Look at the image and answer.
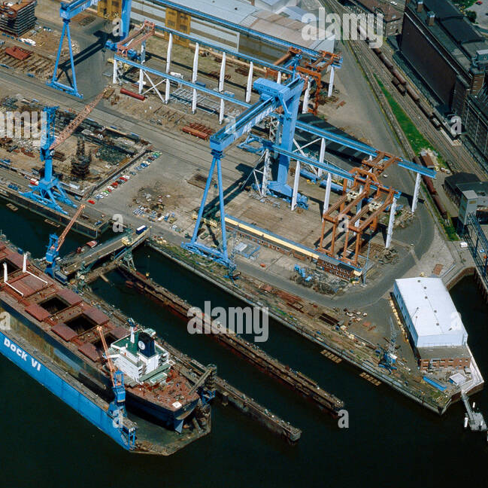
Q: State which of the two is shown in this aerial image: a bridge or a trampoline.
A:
bridge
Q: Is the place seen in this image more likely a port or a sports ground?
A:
port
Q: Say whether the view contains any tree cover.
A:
No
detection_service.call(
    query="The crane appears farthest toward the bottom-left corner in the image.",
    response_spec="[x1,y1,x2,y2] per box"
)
[98,327,135,421]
